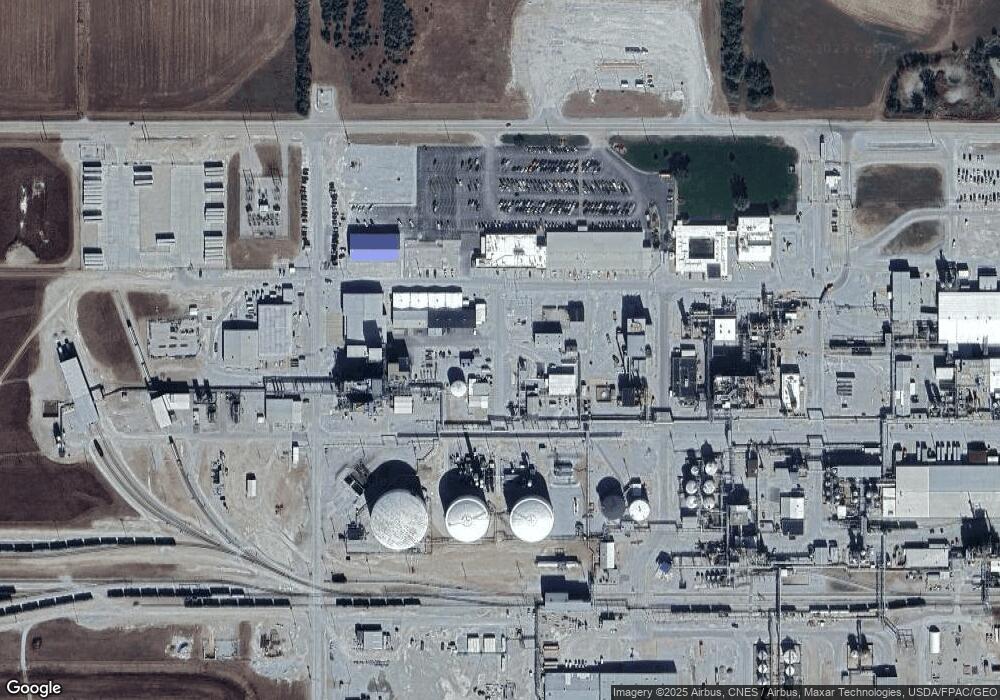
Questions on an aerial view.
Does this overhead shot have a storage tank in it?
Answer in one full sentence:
Yes, looking at the shot, I can spot a storage tank.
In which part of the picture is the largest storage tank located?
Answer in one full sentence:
The largest storage tank is located in the bottom region of the scene.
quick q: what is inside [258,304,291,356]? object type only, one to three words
building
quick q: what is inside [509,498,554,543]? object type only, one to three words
storage tank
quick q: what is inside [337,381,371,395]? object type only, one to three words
house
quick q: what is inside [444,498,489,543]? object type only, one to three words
storage tank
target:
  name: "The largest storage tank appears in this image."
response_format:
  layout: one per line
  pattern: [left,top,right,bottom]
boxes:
[368,490,427,550]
